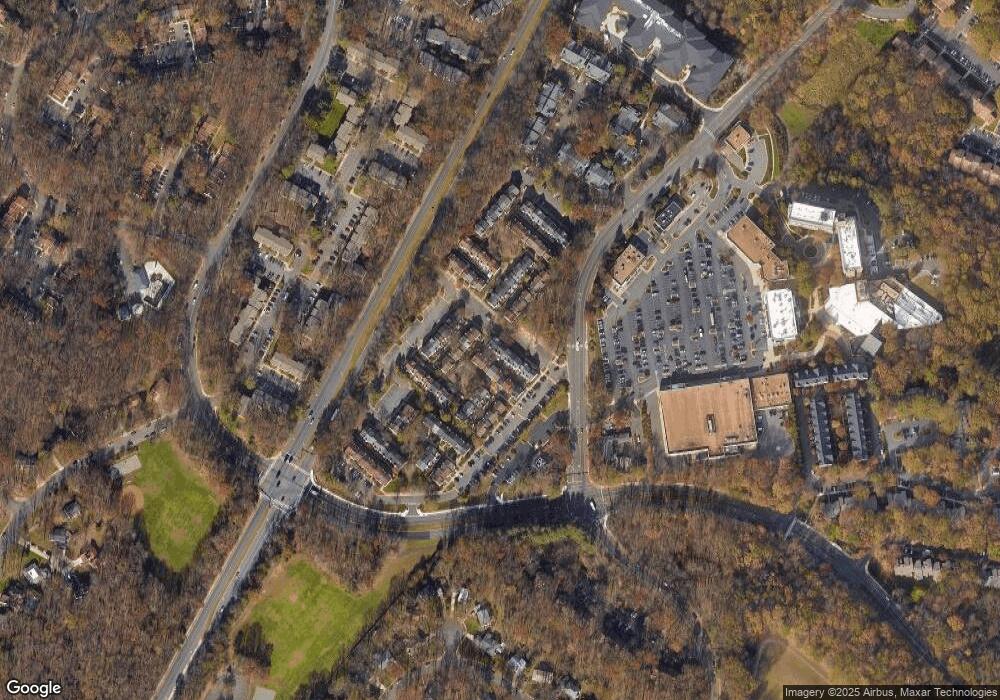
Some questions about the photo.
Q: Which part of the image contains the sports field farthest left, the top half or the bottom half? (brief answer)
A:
bottom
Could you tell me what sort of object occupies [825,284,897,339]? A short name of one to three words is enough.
building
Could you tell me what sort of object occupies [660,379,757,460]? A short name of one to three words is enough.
building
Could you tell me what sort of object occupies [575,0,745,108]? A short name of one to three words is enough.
house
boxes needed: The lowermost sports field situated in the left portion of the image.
[236,540,436,700]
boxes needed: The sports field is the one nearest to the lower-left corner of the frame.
[120,439,222,572]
